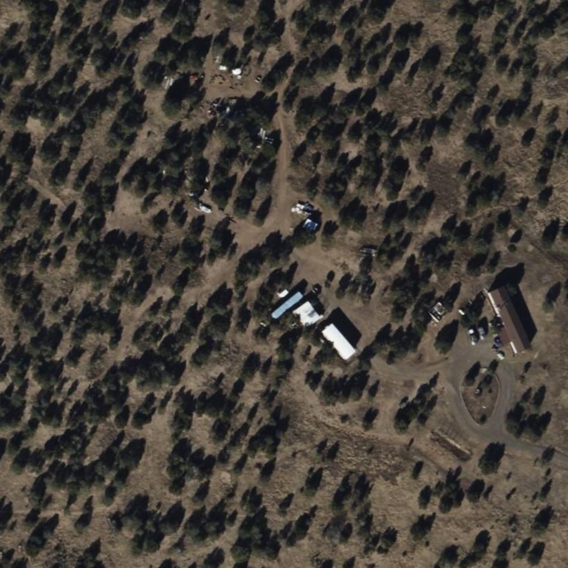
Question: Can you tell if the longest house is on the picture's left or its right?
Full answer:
The longest house sits on the right side.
